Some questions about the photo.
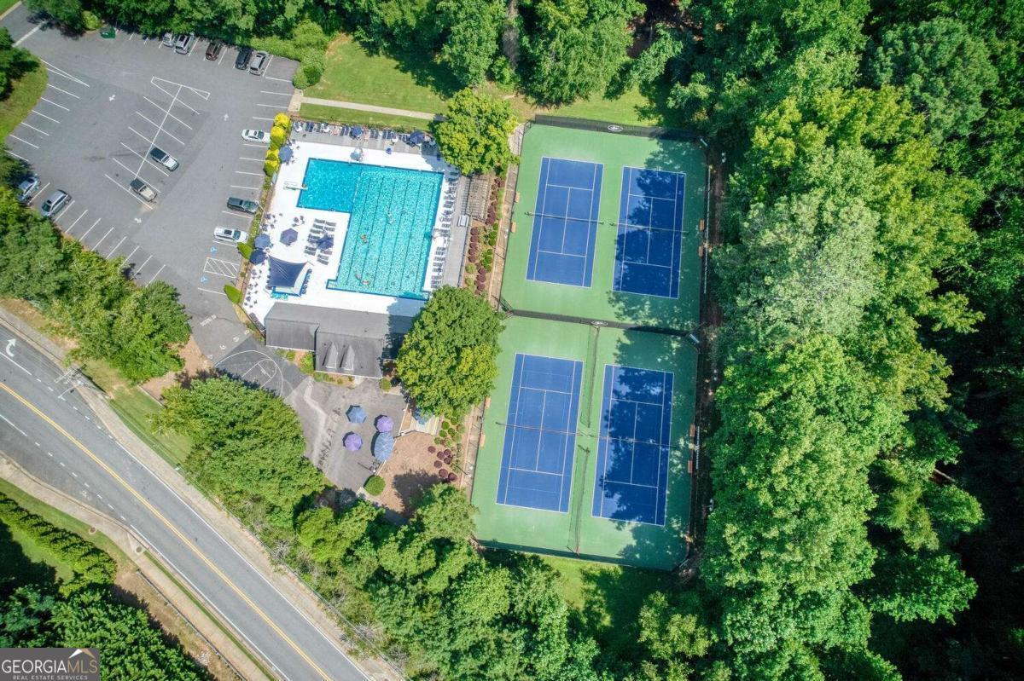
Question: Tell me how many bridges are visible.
zero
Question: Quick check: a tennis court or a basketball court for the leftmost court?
basketball court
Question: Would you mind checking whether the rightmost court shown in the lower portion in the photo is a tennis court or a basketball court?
tennis court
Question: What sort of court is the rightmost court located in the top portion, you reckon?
tennis court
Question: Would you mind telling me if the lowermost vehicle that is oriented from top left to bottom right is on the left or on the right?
left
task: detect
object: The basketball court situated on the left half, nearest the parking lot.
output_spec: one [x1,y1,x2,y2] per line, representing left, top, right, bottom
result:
[208,339,305,426]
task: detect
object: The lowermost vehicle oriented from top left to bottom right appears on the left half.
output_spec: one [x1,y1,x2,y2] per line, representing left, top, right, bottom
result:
[129,177,157,199]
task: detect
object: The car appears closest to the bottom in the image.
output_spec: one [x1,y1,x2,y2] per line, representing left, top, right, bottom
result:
[216,227,246,243]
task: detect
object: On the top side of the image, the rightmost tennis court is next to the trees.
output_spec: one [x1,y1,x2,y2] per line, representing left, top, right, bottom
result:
[599,135,707,331]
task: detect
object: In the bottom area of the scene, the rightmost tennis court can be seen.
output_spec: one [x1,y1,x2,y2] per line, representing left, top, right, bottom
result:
[576,324,697,569]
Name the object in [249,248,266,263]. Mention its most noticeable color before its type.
blue umbrella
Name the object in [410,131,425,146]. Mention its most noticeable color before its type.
blue umbrella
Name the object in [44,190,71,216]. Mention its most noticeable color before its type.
gray car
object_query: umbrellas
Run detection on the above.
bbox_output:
[351,127,362,141]
[255,234,271,249]
[347,406,367,424]
[376,416,393,433]
[249,248,266,263]
[278,147,294,162]
[344,434,362,451]
[410,131,425,146]
[280,228,298,245]
[374,433,393,461]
